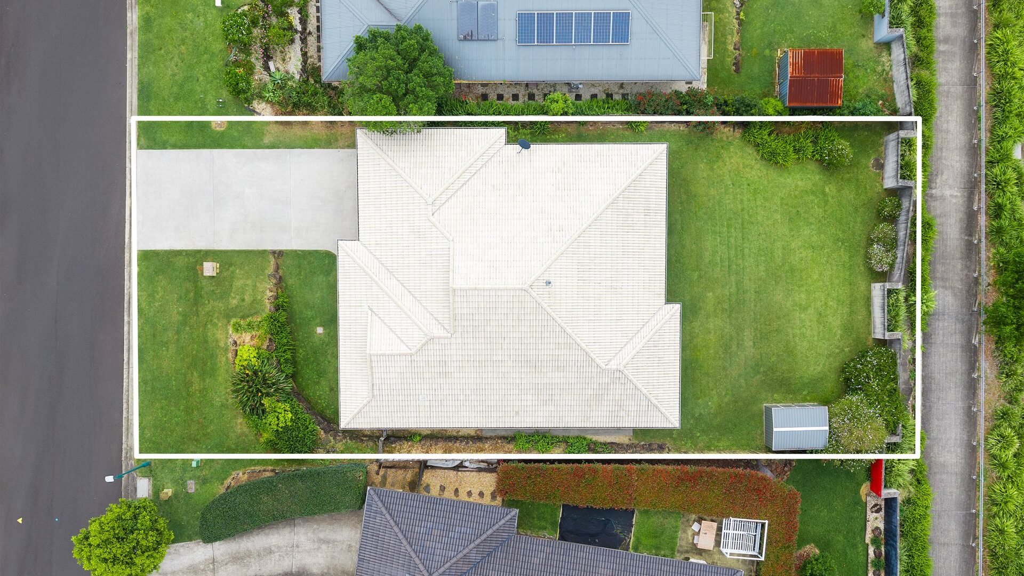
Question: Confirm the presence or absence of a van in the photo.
No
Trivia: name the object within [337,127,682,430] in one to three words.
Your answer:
house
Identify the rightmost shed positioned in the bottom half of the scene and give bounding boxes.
[765,403,831,451]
